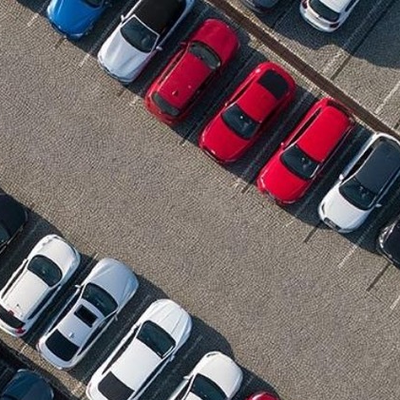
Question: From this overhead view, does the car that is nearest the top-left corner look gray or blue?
blue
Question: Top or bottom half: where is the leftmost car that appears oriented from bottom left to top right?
bottom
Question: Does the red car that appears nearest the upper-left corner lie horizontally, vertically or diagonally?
diagonally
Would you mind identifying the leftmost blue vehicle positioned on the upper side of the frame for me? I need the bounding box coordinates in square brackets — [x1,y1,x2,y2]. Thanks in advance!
[51,0,115,39]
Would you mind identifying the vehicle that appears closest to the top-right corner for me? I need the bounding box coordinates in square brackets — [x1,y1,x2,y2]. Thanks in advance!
[299,0,365,37]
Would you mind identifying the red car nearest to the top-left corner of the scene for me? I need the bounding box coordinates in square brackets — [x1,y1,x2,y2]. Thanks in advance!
[142,20,240,127]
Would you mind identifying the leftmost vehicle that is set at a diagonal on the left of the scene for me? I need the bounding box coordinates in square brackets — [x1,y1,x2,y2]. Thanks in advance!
[0,236,82,340]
